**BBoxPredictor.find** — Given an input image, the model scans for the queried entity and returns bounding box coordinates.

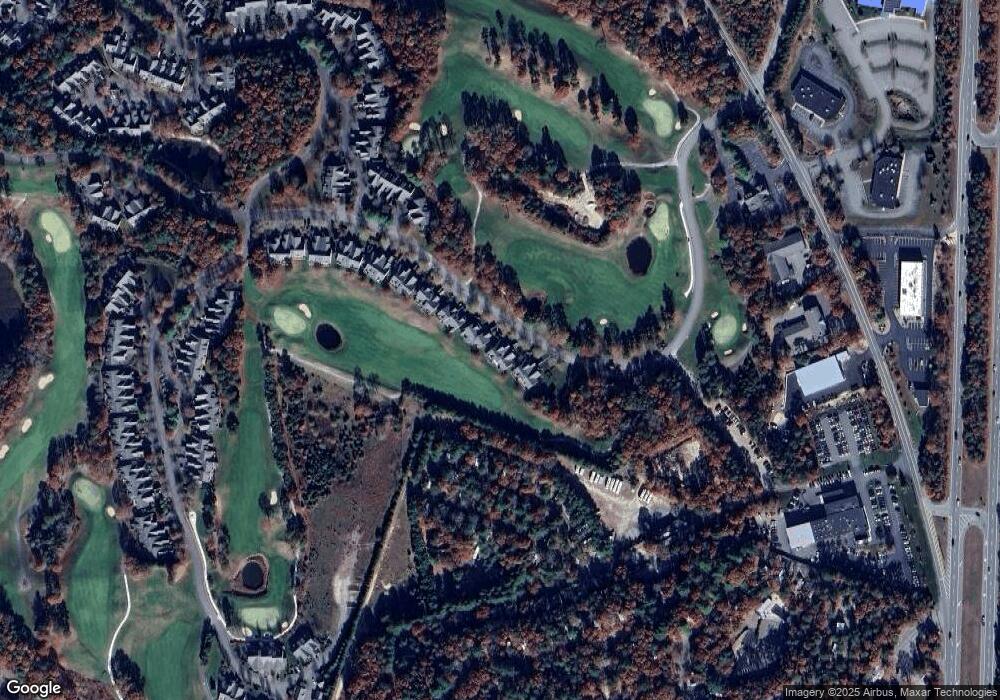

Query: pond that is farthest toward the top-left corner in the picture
[152,146,223,190]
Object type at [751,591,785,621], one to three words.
house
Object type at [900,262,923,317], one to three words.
building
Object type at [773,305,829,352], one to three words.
house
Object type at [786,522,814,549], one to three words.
building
